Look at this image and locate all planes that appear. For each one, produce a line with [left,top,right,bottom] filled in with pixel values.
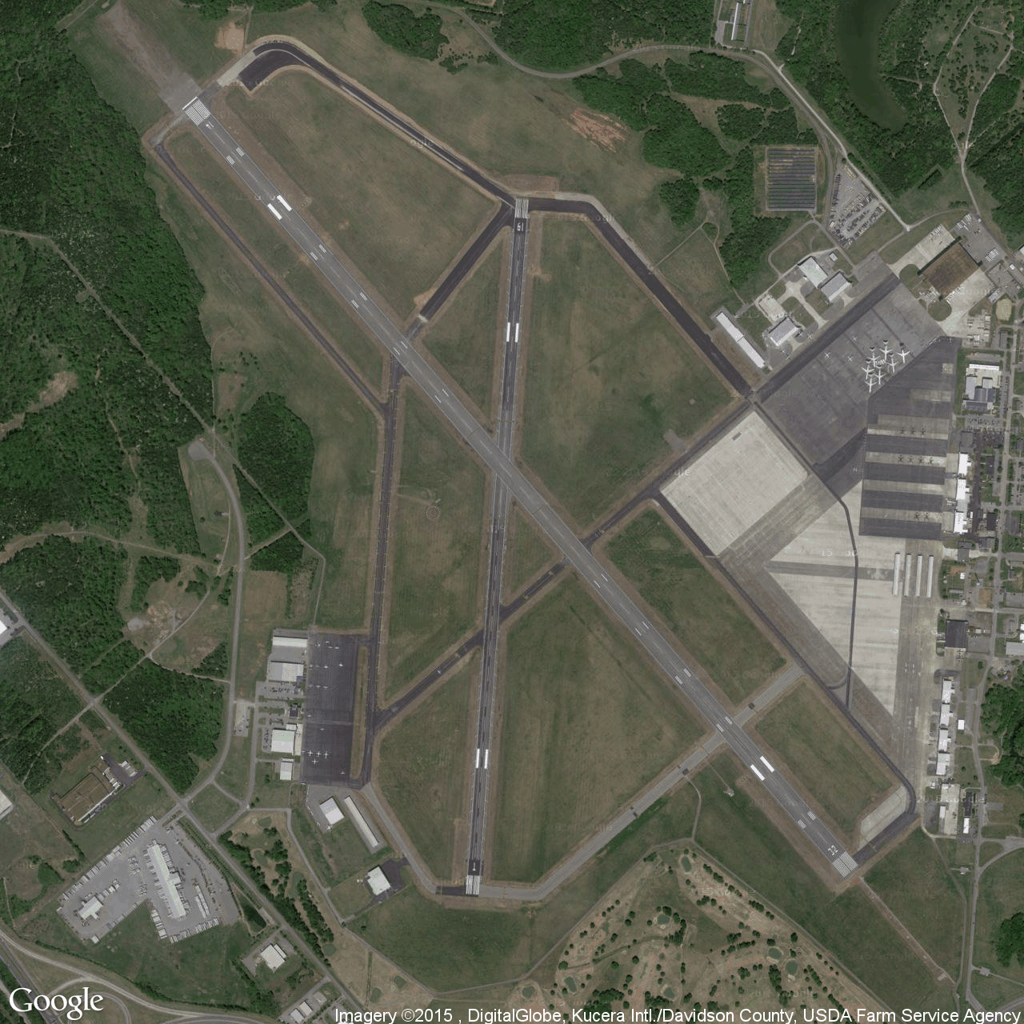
[862,361,874,379]
[873,365,886,384]
[886,354,899,372]
[867,349,879,367]
[897,345,909,363]
[880,342,892,360]
[864,374,876,392]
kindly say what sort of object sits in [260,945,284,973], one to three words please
building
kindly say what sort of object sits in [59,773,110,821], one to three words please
building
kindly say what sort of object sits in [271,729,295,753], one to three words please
hangar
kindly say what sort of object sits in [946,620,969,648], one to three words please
hangar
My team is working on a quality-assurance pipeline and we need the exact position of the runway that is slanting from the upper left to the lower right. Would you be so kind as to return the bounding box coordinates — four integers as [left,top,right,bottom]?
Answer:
[182,96,860,880]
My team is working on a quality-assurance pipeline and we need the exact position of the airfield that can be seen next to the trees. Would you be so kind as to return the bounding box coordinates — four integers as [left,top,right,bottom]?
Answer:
[149,40,961,900]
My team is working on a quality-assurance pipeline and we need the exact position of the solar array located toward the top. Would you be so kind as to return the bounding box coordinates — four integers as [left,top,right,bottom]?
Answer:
[769,151,816,209]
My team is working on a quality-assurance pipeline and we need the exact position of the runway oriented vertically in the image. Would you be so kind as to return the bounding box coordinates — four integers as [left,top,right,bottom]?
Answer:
[465,198,530,895]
